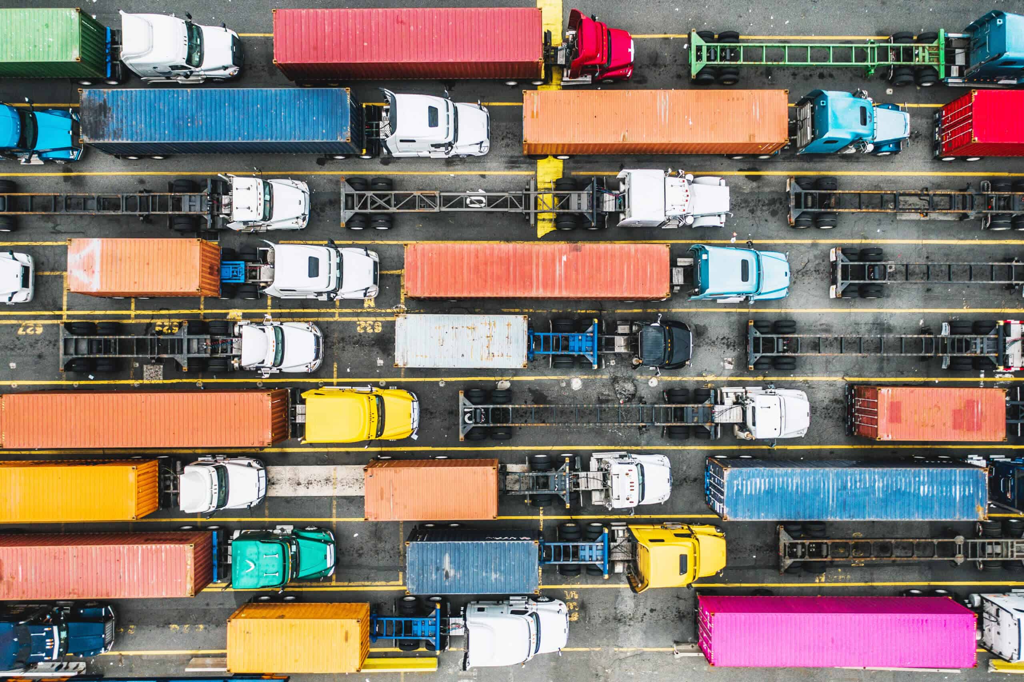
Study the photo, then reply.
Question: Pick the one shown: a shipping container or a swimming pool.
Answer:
shipping container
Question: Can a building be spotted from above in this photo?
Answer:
No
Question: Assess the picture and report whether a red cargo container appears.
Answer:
Yes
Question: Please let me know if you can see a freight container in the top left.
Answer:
Yes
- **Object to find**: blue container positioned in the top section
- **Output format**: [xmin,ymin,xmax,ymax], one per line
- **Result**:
[78,88,361,155]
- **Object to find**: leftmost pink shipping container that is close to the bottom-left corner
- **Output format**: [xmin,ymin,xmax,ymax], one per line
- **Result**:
[0,532,213,598]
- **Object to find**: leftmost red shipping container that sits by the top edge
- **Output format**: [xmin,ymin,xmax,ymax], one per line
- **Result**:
[273,8,542,80]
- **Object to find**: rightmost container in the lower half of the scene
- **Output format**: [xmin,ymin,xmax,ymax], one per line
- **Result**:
[856,385,1006,441]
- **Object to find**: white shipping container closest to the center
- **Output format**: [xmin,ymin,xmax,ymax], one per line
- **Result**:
[394,314,527,368]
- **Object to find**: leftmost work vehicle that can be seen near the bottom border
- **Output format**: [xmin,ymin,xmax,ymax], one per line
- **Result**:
[0,598,118,670]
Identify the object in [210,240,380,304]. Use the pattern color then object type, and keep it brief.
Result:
white work vehicle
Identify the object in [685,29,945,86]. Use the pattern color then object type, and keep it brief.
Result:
green trailer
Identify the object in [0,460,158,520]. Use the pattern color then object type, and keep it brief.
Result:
yellow shipping container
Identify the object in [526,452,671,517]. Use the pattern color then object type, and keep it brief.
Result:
white work vehicle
